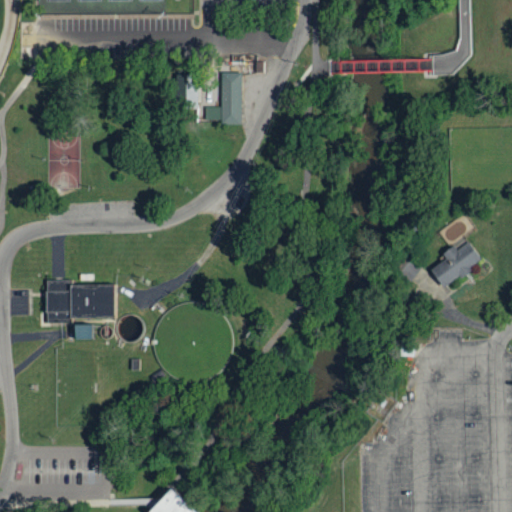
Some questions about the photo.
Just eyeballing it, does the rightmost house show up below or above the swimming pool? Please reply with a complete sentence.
The rightmost house is located below the swimming pool in this view.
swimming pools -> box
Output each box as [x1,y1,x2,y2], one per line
[440,216,472,245]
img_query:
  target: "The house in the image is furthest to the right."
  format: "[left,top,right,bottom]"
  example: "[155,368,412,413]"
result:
[432,242,480,287]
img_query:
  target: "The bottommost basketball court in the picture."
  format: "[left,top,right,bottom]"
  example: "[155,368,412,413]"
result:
[50,135,80,194]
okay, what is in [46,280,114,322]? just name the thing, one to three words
building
